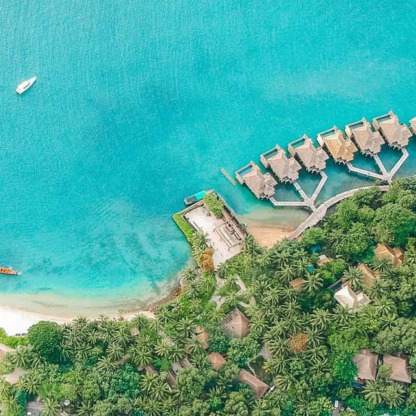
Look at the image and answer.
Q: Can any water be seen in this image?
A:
Yes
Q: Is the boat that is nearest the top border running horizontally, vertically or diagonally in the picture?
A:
diagonally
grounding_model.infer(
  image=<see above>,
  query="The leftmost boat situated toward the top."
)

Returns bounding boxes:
[14,76,36,97]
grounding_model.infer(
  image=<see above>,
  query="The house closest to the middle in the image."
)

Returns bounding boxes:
[233,164,278,205]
